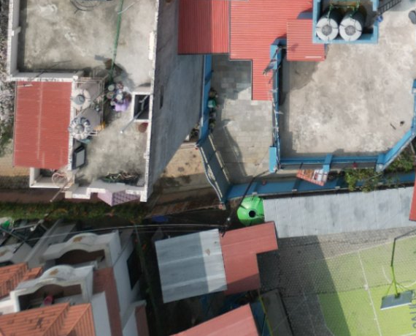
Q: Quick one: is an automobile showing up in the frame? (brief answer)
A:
No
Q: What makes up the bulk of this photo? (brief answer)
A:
buildings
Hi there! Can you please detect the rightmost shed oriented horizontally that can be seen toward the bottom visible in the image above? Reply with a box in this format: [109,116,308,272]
[262,184,412,236]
